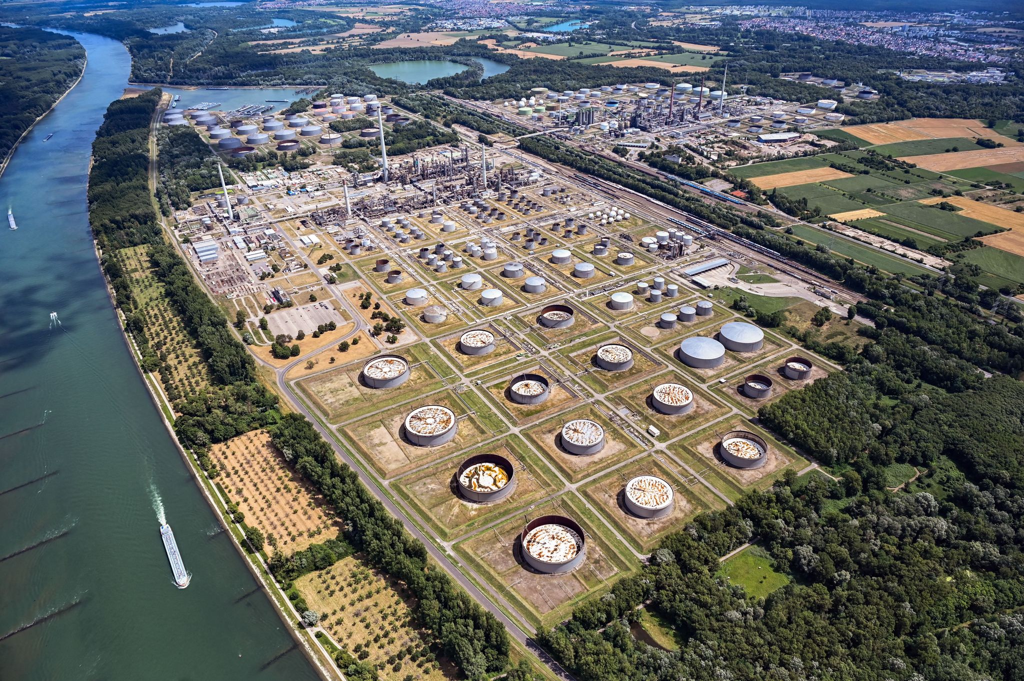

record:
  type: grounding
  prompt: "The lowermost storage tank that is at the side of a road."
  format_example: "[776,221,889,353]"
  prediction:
[519,514,589,576]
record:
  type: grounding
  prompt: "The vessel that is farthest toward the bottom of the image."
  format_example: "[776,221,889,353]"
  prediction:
[161,524,188,588]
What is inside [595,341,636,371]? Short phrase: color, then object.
white storage tank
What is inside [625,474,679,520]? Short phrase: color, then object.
white storage tank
